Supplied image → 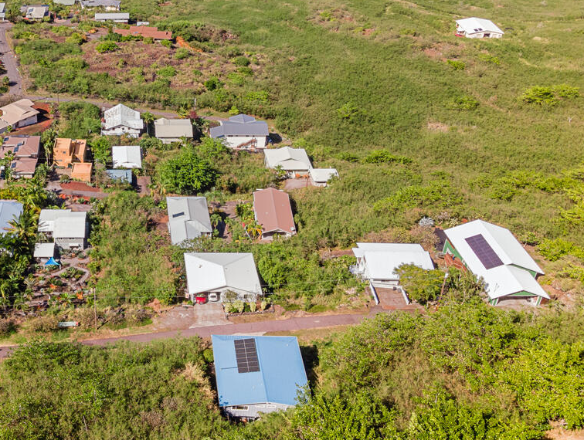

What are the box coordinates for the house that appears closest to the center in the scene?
[253,187,298,241]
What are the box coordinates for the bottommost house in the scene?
[210,331,314,415]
